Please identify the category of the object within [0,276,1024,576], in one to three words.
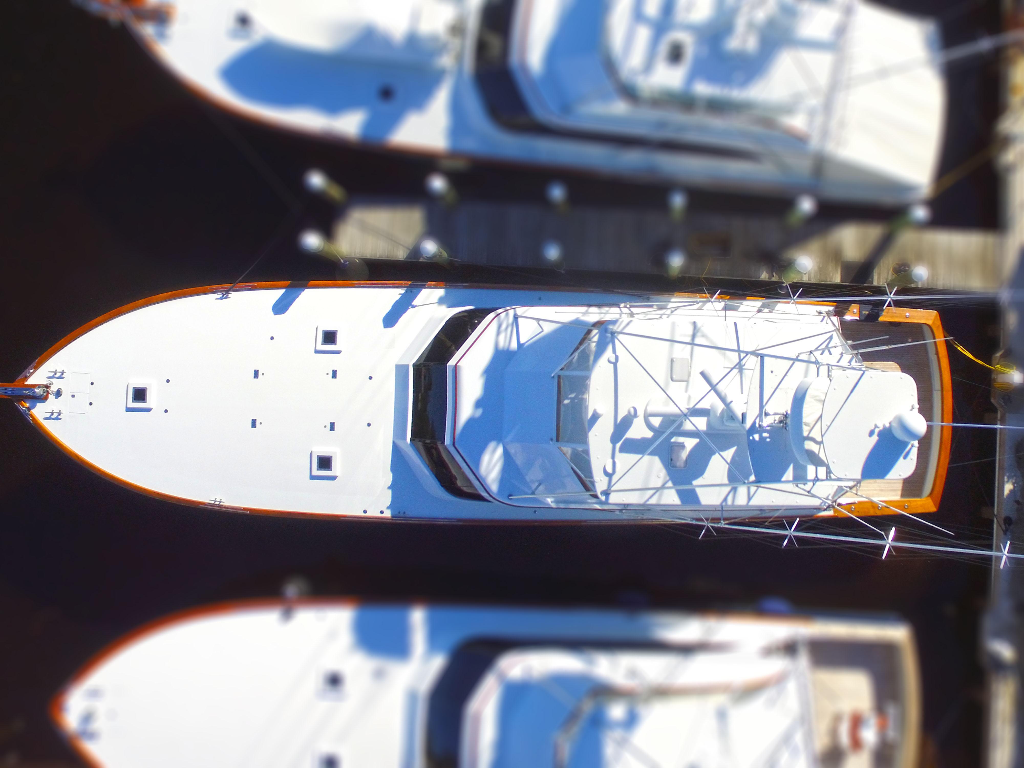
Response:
boat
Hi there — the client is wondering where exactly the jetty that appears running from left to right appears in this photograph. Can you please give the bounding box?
[337,195,996,292]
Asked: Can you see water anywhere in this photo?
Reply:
Yes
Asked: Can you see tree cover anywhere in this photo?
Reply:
No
